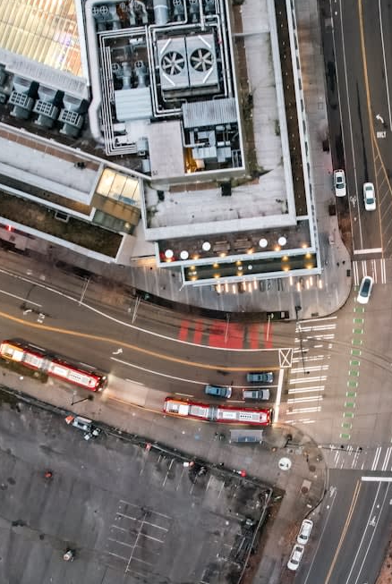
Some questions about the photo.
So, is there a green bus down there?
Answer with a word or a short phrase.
No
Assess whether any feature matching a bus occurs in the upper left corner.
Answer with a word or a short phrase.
No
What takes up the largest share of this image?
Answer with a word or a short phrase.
paved ground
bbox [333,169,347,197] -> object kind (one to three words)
vehicle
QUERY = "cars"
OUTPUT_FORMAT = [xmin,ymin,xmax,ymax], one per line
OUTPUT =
[333,169,347,197]
[246,371,275,385]
[363,181,375,212]
[357,274,373,303]
[298,517,312,545]
[204,385,233,398]
[287,542,304,571]
[242,388,270,401]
